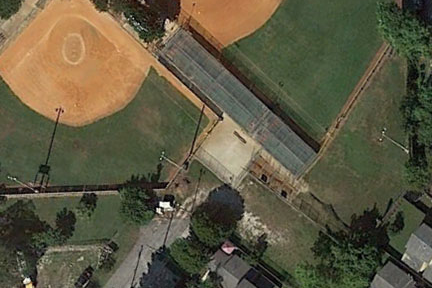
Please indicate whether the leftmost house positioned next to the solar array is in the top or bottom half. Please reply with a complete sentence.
The leftmost house positioned next to the solar array sits in the bottom half of the picture.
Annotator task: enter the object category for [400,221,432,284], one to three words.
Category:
house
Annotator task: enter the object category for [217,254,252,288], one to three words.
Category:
house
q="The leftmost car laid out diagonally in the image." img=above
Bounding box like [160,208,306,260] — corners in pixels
[75,268,90,285]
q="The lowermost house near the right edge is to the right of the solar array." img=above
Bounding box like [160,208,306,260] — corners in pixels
[369,259,424,288]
